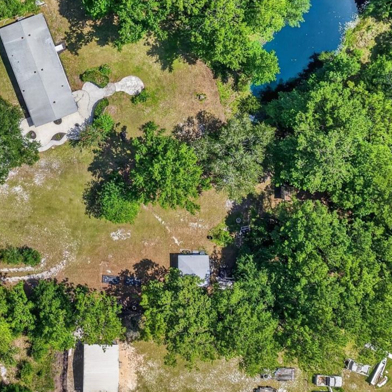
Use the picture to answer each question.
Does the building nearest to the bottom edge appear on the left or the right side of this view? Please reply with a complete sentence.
You can find the building nearest to the bottom edge on the left side of the picture.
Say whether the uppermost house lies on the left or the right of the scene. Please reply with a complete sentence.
The uppermost house appears in the left half of the scene.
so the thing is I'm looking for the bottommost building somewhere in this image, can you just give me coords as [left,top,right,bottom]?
[83,339,118,392]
